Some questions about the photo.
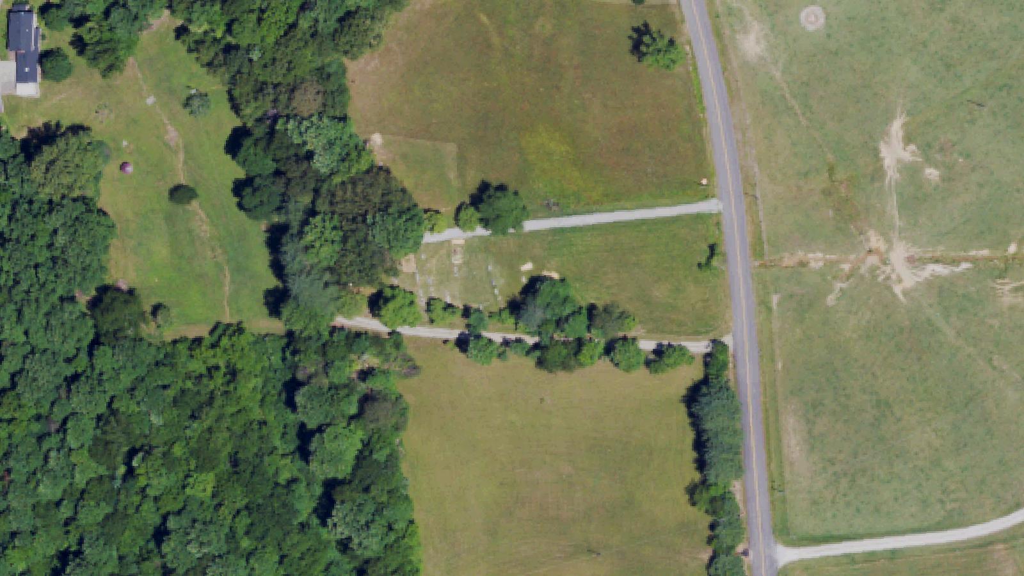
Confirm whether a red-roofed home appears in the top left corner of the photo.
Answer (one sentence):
No, no red-roofed home appears in the top left corner of the photo.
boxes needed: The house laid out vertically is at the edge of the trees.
[8,4,40,97]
